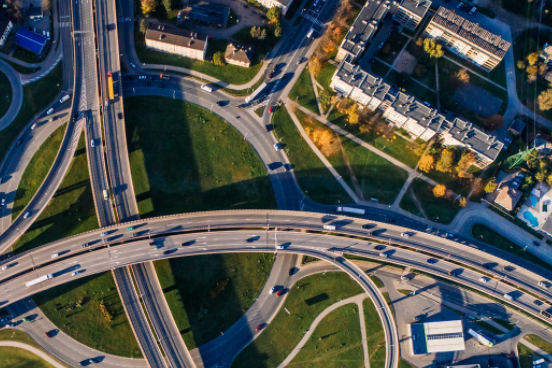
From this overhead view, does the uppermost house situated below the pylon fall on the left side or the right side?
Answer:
right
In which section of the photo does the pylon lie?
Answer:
right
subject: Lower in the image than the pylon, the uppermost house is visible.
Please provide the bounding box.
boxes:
[492,181,523,211]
